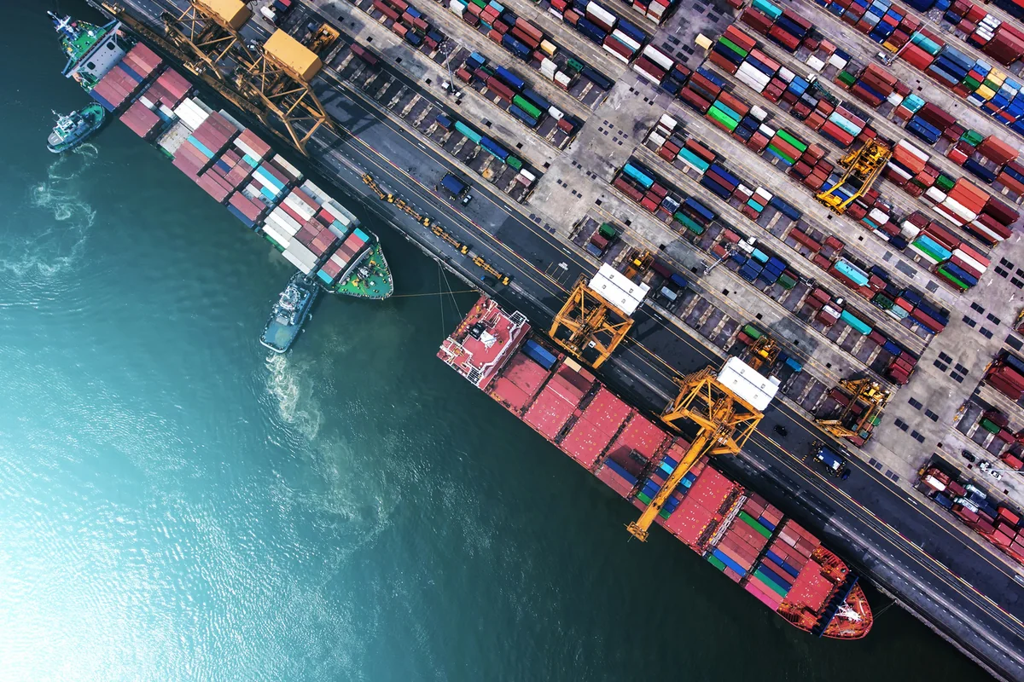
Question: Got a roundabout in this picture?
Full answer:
No, there is no roundabout in the image.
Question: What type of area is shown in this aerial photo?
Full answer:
The area seen from above is a port.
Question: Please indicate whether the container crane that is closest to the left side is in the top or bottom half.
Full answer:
The container crane that is closest to the left side sits in the top half of the picture.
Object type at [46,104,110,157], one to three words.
boat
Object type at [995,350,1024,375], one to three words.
shipping container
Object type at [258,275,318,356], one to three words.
boat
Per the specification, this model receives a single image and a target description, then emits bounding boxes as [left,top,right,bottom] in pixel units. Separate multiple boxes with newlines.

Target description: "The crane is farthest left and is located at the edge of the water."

[172,0,270,106]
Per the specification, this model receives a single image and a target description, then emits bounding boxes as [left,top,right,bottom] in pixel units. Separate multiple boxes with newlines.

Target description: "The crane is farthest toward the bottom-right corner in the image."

[814,373,903,440]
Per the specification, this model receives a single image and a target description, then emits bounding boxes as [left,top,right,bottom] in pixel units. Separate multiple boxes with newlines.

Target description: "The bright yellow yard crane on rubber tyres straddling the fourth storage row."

[812,137,894,215]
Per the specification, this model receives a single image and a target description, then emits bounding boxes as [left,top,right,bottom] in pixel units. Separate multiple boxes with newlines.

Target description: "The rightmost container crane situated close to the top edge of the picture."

[240,24,341,160]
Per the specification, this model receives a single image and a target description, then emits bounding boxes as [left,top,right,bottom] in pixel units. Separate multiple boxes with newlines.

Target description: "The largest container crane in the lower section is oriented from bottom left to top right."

[625,338,781,542]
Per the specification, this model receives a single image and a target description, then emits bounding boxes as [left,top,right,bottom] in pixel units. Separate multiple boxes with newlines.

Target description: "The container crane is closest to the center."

[544,248,654,373]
